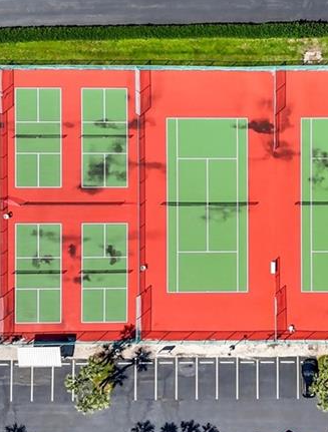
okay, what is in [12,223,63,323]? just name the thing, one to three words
sports court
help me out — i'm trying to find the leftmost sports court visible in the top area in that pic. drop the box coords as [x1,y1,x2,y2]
[12,88,63,188]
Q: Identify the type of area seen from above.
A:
sports ground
